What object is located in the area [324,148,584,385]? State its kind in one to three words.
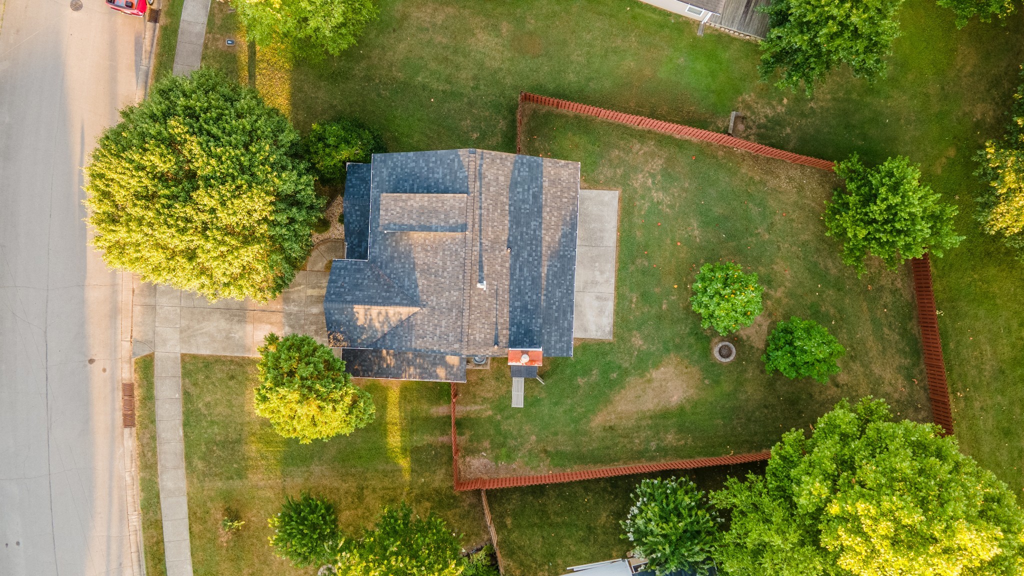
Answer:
house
